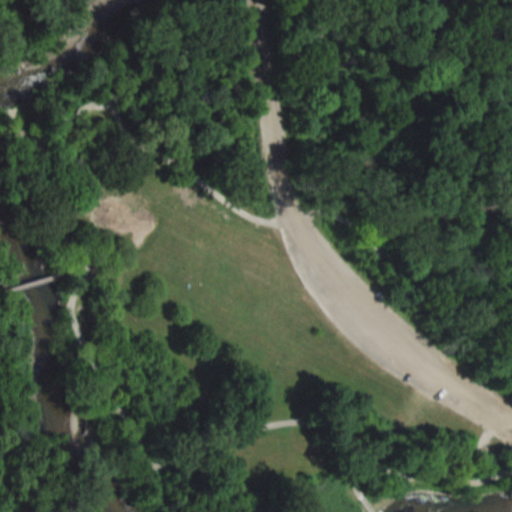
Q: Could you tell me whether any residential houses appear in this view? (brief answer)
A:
No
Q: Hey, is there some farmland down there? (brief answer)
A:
No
